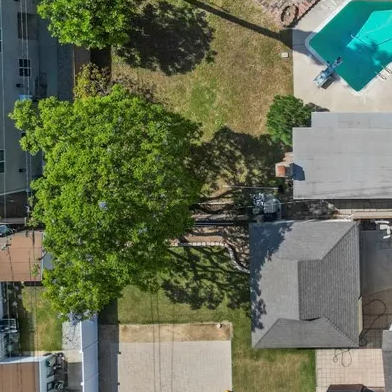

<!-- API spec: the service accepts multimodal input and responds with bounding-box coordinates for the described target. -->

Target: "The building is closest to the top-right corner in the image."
[292,111,392,200]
